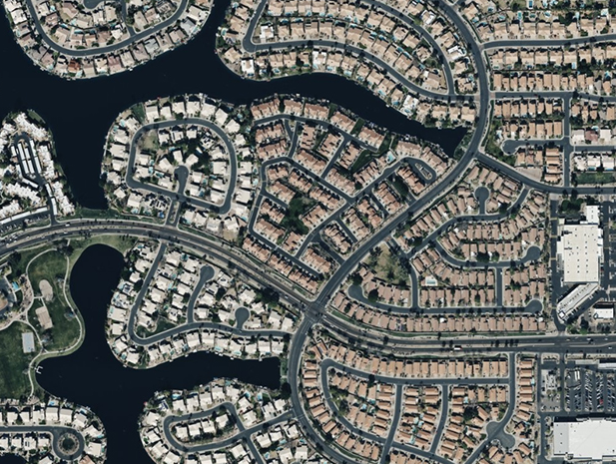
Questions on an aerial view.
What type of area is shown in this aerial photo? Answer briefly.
residential area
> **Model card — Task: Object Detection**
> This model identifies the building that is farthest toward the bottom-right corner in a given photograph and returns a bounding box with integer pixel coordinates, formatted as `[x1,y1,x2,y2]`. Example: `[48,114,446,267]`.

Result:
[554,418,616,462]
